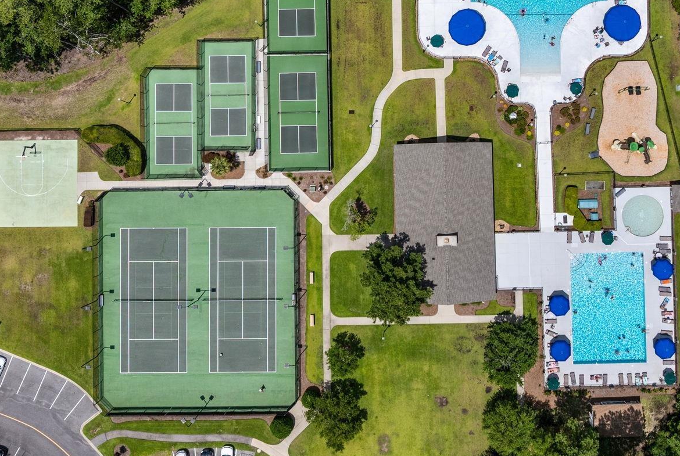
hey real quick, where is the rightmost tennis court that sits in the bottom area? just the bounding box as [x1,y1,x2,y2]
[201,227,282,372]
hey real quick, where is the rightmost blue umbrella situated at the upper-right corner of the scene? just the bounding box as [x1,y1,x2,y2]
[603,3,640,41]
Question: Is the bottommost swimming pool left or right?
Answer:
right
